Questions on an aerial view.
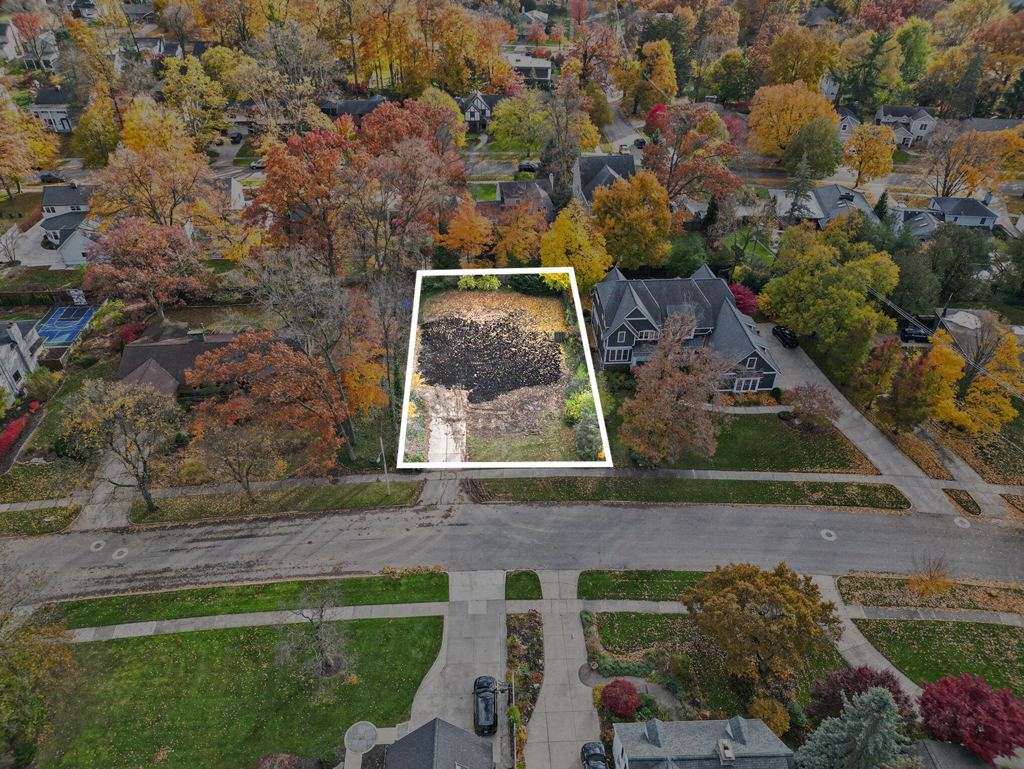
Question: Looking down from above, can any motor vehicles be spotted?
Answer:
Yes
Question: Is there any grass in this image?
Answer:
Yes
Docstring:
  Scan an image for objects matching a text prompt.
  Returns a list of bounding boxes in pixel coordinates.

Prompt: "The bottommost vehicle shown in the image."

[582,733,612,769]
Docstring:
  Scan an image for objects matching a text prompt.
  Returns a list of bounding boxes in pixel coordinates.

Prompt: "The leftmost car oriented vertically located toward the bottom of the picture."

[473,677,499,737]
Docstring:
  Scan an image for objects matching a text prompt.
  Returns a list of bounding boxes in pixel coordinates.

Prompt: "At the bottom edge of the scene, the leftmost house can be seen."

[373,711,498,769]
